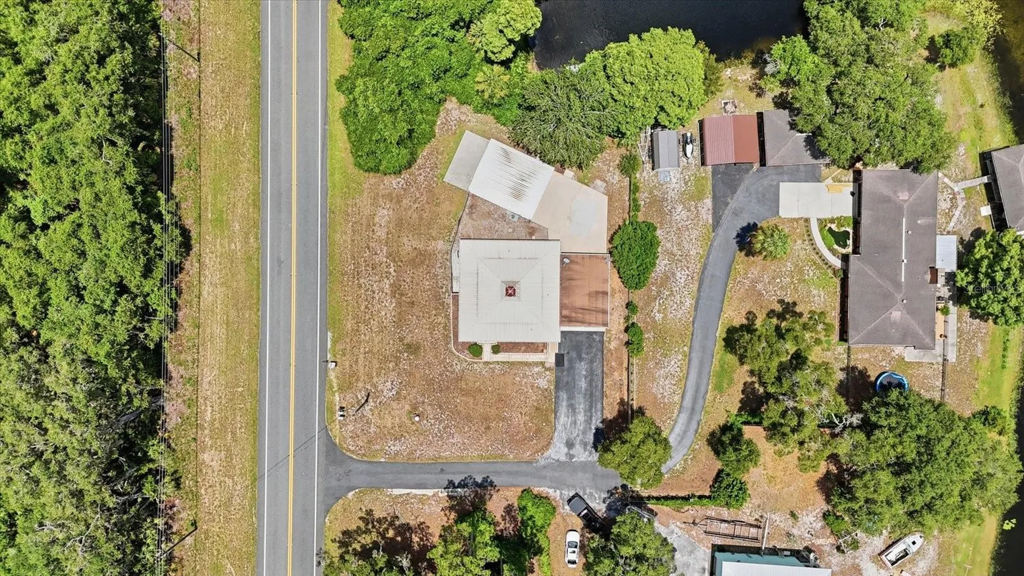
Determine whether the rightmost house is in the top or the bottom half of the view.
top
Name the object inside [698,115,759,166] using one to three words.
barn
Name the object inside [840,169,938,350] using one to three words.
house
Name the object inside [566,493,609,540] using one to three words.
truck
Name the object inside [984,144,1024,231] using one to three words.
house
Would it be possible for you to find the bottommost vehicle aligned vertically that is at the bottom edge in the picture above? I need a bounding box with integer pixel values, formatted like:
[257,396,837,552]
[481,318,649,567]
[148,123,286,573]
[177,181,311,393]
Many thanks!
[564,530,581,570]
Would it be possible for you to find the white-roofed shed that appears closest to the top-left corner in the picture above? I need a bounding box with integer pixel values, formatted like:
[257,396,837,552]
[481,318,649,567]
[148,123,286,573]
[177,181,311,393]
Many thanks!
[469,139,554,219]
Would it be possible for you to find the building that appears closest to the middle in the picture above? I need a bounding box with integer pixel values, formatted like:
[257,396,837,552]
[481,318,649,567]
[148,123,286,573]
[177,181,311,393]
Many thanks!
[458,238,609,344]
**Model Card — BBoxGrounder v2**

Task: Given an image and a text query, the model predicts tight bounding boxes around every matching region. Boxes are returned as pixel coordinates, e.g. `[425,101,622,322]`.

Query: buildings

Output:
[760,109,832,166]
[714,550,831,576]
[651,130,679,171]
[984,144,1024,231]
[469,139,554,219]
[698,115,759,166]
[458,238,609,344]
[840,169,938,350]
